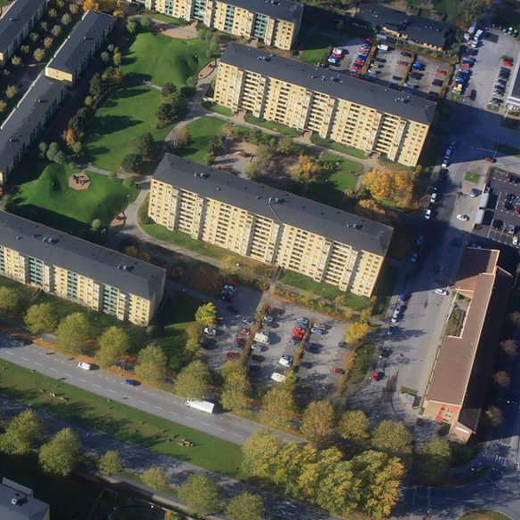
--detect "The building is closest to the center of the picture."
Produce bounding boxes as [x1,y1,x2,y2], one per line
[149,153,394,295]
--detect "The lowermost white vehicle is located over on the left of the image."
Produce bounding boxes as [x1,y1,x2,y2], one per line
[182,394,220,415]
